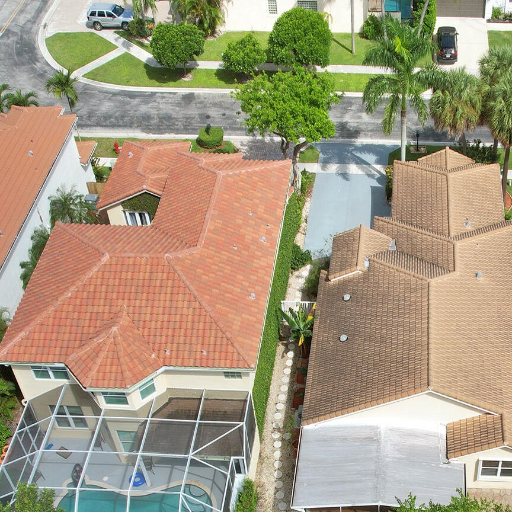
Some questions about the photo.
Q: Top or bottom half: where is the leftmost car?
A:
top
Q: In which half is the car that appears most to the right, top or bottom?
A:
top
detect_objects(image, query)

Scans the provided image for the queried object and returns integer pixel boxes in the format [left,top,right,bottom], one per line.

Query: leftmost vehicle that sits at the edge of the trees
[82,1,137,31]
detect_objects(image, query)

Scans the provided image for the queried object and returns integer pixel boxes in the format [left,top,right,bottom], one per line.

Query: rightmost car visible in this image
[436,23,460,53]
